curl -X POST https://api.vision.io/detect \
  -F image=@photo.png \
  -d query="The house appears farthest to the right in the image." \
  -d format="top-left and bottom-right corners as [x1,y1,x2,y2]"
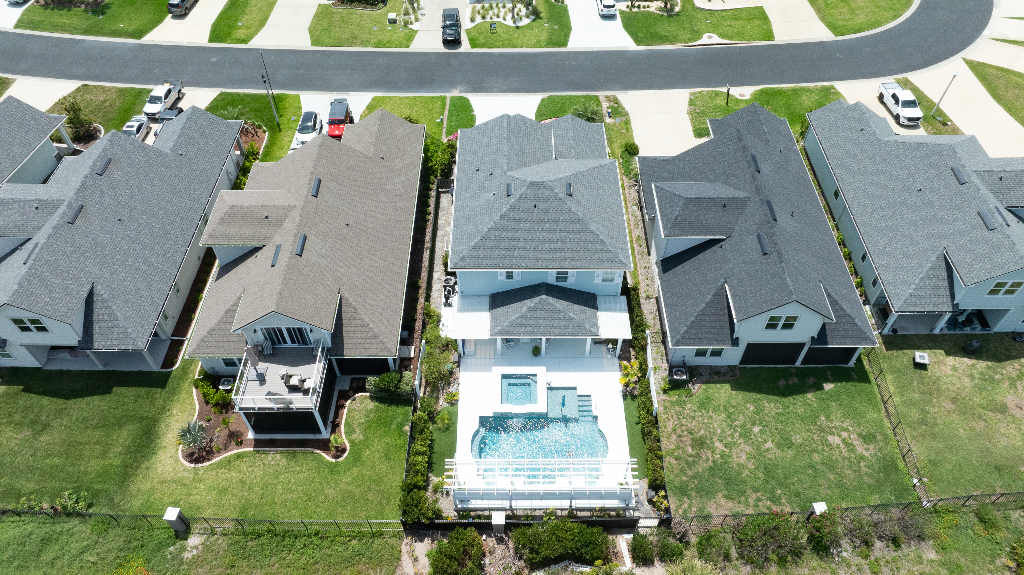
[805,99,1024,334]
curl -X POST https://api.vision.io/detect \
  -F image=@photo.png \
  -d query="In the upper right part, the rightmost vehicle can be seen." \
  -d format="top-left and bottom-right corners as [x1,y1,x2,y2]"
[876,82,925,126]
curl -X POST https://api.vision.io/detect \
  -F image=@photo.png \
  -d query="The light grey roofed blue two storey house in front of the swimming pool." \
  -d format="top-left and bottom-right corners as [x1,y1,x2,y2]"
[446,115,634,357]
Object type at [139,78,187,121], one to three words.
truck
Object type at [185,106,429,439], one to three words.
house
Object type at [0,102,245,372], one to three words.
house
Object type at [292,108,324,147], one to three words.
car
